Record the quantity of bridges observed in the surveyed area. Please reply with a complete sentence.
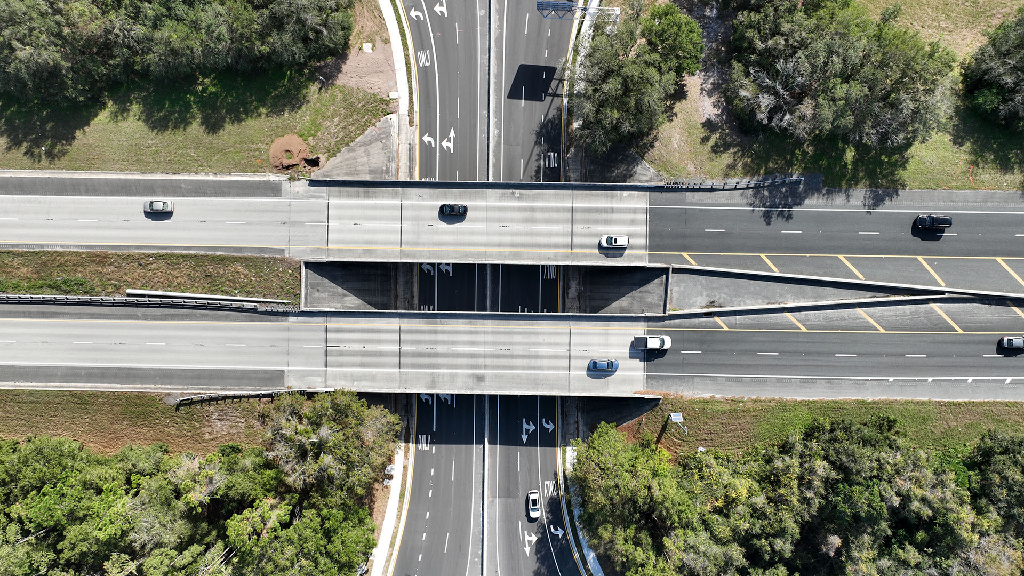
The number of bridges here is 2.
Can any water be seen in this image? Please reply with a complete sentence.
No, no water is visible.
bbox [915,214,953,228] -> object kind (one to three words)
car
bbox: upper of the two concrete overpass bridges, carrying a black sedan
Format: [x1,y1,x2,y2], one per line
[302,181,666,267]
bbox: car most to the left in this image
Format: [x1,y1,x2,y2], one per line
[145,199,176,213]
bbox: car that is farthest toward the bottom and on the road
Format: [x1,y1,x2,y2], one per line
[528,489,541,518]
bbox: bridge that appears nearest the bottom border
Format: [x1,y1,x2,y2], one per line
[301,311,669,397]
